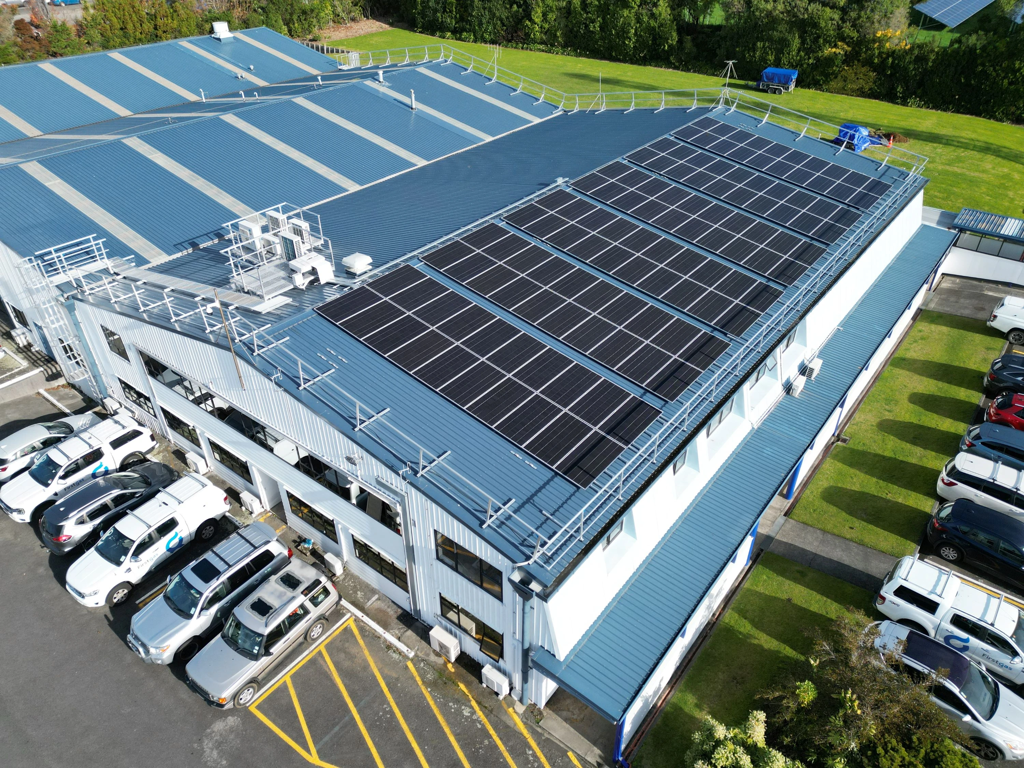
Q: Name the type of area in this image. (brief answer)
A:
industrial area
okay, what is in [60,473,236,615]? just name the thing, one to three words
truck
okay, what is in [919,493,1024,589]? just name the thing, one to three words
car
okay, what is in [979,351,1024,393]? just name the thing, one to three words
car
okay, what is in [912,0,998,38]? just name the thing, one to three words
solar array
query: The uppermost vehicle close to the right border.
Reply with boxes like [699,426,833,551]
[986,293,1024,343]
